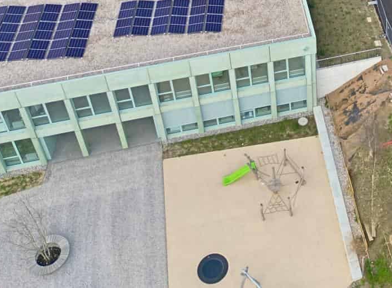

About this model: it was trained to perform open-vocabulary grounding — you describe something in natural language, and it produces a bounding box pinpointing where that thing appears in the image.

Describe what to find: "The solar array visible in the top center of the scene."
[112,0,224,40]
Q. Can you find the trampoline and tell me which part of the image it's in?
bottom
